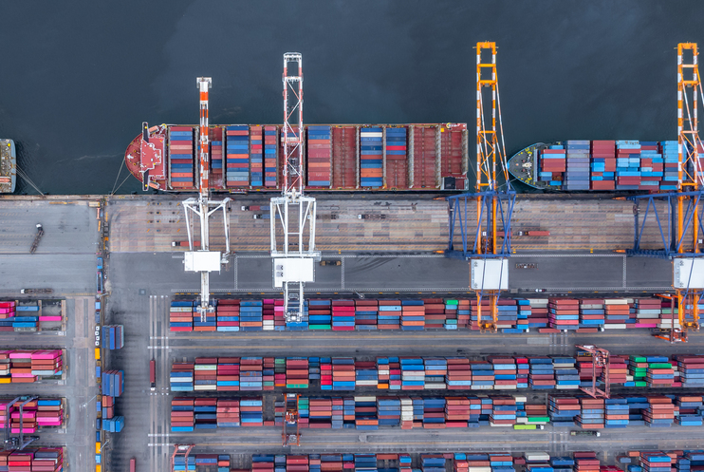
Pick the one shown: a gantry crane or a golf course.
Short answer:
gantry crane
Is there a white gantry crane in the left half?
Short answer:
Yes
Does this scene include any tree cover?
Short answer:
No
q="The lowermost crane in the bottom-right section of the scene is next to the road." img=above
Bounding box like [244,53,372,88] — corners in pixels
[575,345,611,397]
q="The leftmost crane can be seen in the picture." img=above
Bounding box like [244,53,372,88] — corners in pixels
[4,396,39,451]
